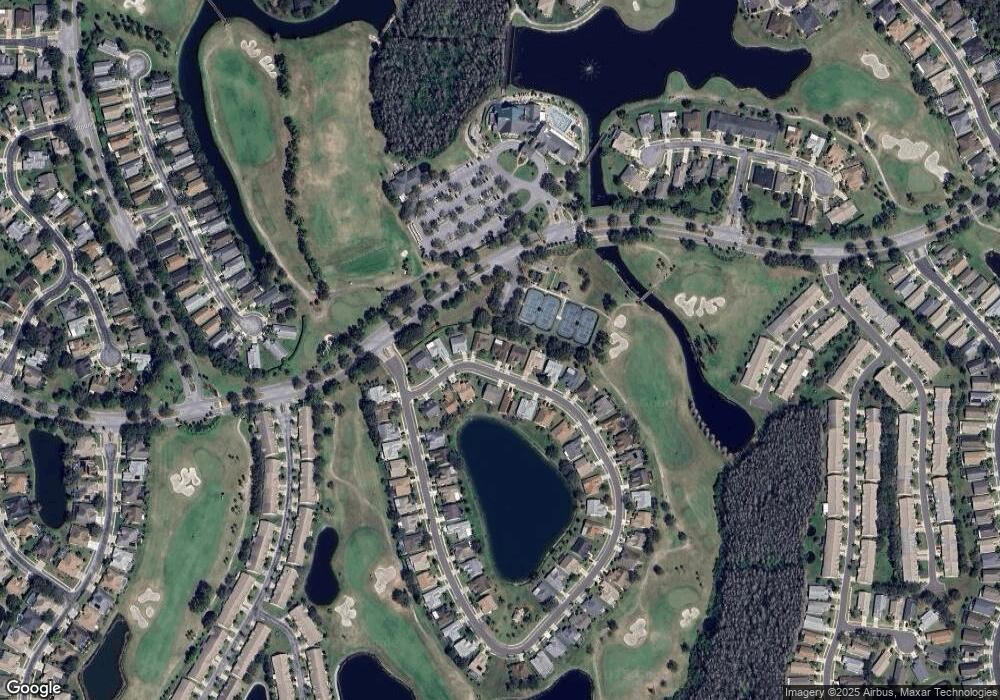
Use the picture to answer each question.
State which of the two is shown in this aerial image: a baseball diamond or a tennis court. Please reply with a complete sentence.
This aerial view contains a tennis court.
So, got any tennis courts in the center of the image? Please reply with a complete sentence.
Yes, I can see a tennis court in the center of the image.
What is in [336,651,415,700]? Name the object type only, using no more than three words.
pond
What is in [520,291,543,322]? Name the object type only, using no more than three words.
tennis court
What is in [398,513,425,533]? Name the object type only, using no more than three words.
house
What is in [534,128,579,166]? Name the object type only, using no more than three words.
building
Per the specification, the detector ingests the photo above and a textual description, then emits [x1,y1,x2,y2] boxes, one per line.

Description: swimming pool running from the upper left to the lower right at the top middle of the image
[543,103,584,147]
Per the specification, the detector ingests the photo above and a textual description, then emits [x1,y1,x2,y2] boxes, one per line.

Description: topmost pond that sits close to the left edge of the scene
[30,429,66,528]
